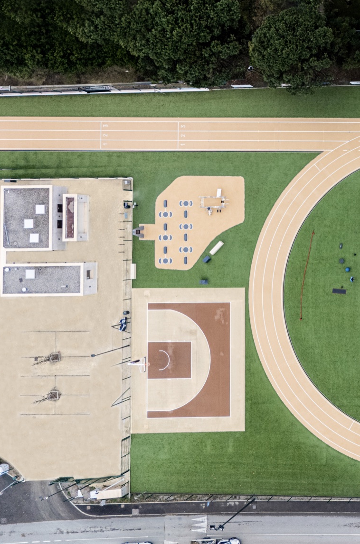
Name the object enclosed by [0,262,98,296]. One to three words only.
building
